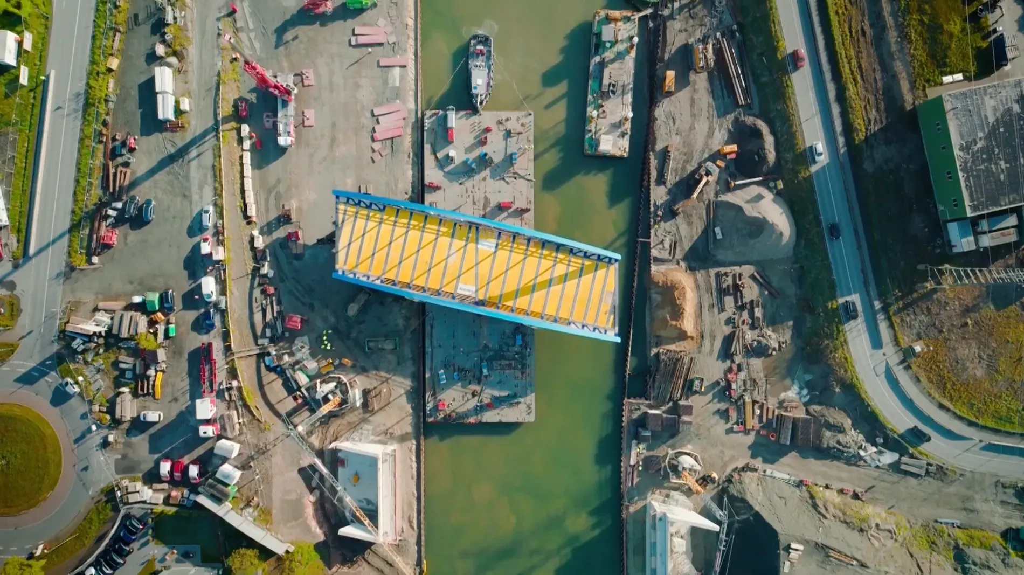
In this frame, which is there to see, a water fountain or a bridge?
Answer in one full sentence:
Visible in the photo is a bridge.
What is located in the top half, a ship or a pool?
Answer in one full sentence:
The one visible in the top half is a ship.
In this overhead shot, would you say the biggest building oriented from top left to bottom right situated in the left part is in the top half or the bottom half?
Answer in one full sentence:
You can find the biggest building oriented from top left to bottom right situated in the left part in the bottom half.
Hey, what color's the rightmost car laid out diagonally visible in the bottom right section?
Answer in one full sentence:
In this view, the rightmost car laid out diagonally visible in the bottom right section is black.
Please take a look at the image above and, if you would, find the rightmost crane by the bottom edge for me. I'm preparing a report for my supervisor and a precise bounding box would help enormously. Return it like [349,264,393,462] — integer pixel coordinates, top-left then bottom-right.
[662,445,740,575]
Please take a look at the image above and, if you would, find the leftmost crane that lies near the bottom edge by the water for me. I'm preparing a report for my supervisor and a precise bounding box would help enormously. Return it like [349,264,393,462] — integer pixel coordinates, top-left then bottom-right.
[281,366,418,575]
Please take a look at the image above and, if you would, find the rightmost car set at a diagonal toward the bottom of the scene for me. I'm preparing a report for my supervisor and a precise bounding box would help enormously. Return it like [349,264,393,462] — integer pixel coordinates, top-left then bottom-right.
[905,423,929,445]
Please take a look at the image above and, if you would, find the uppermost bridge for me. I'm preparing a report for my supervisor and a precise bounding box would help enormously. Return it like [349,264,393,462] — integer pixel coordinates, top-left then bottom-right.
[331,189,622,342]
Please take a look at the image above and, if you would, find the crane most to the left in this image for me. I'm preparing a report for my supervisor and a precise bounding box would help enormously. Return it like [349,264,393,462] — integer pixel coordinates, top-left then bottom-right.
[221,34,314,147]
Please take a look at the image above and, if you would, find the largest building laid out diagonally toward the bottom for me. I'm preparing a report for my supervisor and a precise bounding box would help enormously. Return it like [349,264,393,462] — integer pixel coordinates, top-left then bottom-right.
[196,487,297,554]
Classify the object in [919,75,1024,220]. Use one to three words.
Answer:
building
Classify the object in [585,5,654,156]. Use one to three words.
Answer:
ship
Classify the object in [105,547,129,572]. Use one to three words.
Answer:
car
